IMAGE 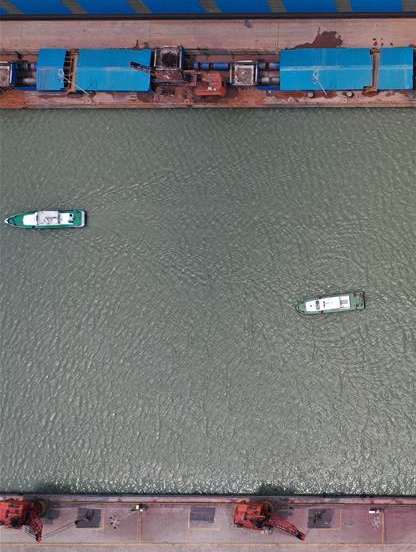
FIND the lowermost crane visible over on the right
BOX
[230,494,318,542]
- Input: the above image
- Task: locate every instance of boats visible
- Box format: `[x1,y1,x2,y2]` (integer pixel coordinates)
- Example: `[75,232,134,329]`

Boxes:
[3,210,89,229]
[296,292,368,315]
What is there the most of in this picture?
water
